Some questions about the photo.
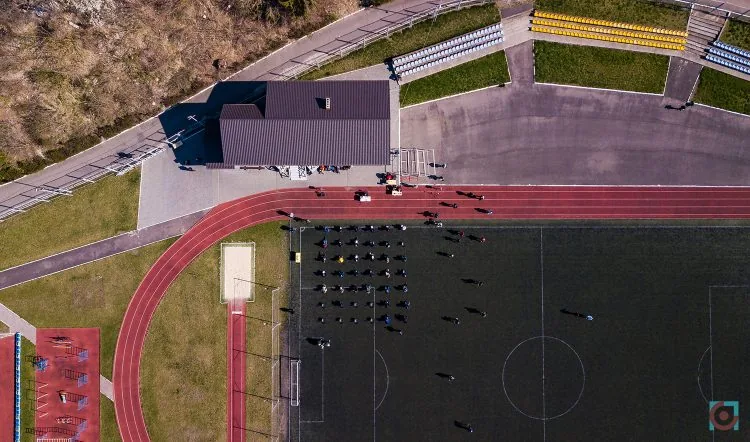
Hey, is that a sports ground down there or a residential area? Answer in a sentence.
This looks like a sports ground.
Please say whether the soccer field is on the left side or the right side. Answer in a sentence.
It is on the right.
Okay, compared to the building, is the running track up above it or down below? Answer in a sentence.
The running track is located below the building in this view.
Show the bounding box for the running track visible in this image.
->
[112,186,750,442]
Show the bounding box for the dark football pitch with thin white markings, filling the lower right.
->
[289,216,750,442]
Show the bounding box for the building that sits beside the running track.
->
[206,81,390,172]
